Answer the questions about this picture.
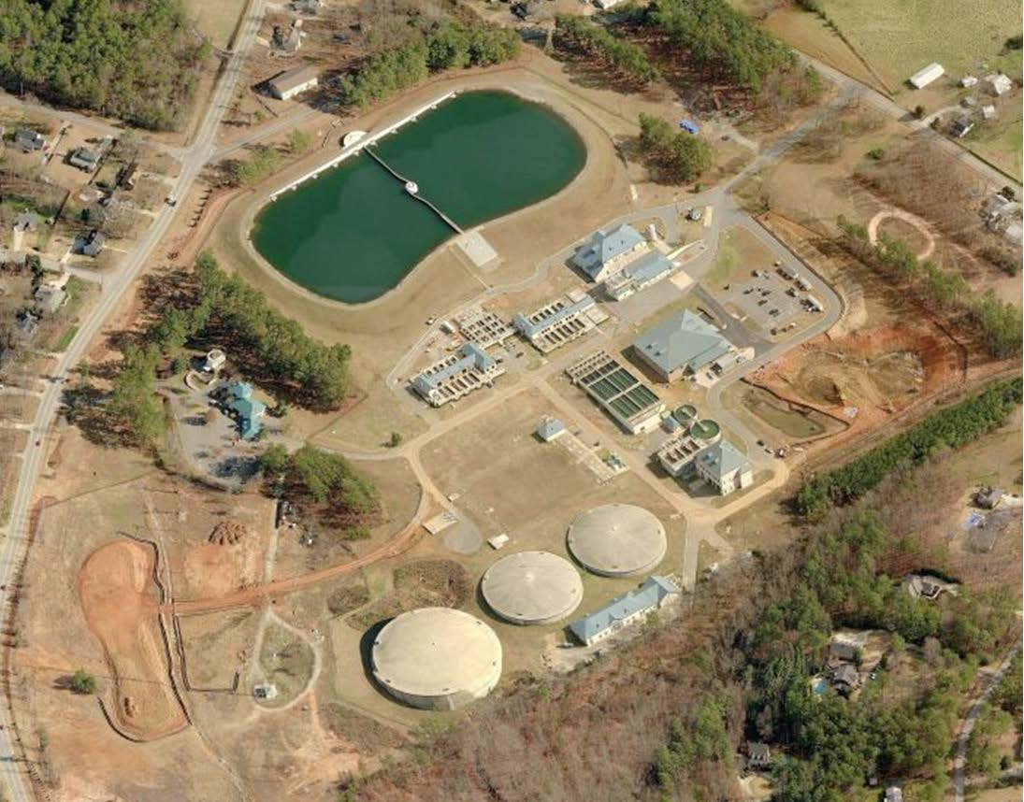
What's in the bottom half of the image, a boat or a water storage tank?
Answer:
water storage tank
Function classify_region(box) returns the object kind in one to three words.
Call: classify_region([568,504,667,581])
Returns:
water tank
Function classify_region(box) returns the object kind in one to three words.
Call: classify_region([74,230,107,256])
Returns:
house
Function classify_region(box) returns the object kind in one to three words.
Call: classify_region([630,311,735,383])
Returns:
building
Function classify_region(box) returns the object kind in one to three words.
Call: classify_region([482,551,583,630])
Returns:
water tank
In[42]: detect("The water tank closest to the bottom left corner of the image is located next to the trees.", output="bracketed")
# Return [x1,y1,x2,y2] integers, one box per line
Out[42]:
[372,606,501,713]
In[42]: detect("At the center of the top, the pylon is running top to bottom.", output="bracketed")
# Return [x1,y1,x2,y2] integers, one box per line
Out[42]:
[542,16,557,52]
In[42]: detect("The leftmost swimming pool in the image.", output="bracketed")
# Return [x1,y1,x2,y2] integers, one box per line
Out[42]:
[810,676,828,699]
